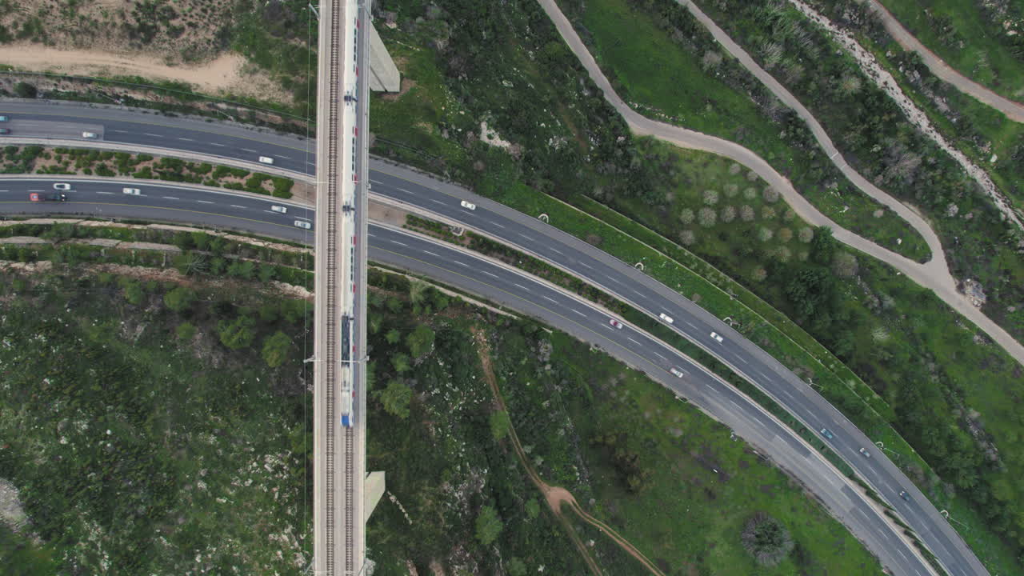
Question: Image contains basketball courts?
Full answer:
No, there is no basketball court in the image.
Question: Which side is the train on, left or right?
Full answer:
The train is on the left side of the image.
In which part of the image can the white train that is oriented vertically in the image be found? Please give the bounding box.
[340,0,362,425]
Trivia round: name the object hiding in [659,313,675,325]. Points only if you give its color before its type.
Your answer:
white vehicle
